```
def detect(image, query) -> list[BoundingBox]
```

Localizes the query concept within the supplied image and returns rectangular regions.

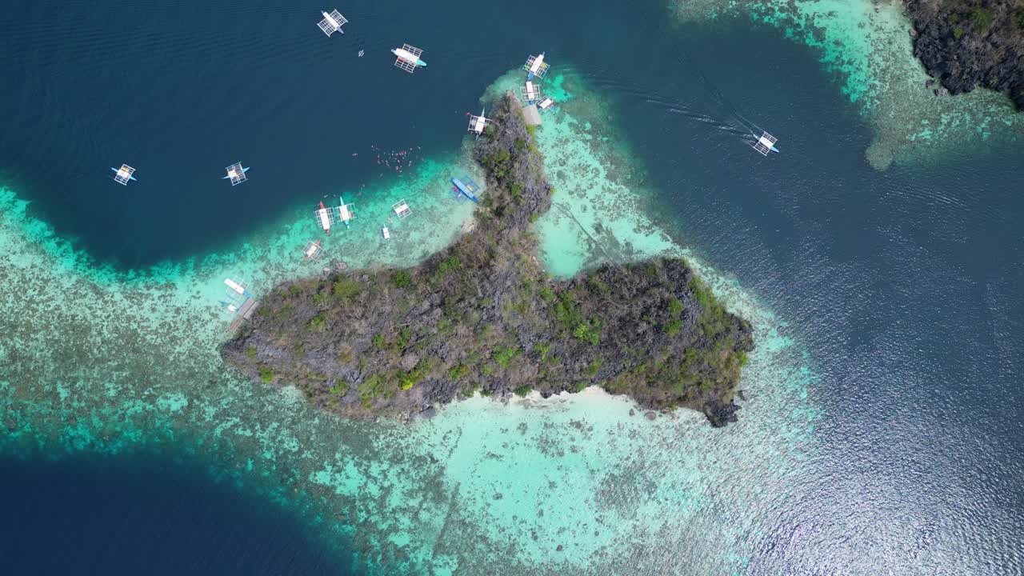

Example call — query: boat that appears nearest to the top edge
[316,8,349,38]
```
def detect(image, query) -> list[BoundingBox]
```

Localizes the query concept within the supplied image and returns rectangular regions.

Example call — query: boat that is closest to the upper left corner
[109,163,136,186]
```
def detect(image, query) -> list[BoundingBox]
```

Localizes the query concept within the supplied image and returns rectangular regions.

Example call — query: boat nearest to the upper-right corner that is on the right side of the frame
[752,131,781,156]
